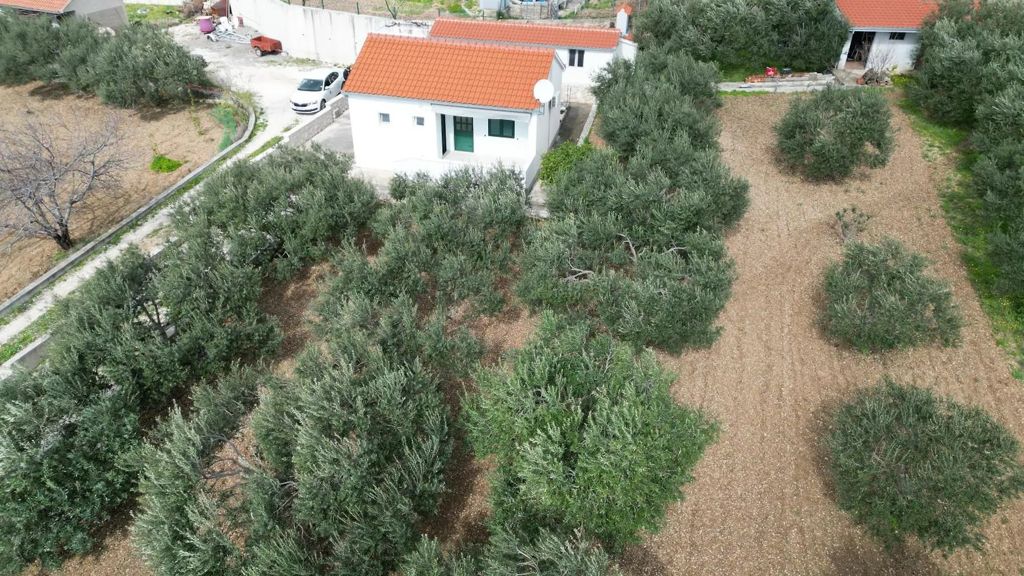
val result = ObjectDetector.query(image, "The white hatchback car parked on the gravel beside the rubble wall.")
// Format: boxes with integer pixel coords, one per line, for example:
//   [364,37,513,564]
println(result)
[290,72,341,107]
